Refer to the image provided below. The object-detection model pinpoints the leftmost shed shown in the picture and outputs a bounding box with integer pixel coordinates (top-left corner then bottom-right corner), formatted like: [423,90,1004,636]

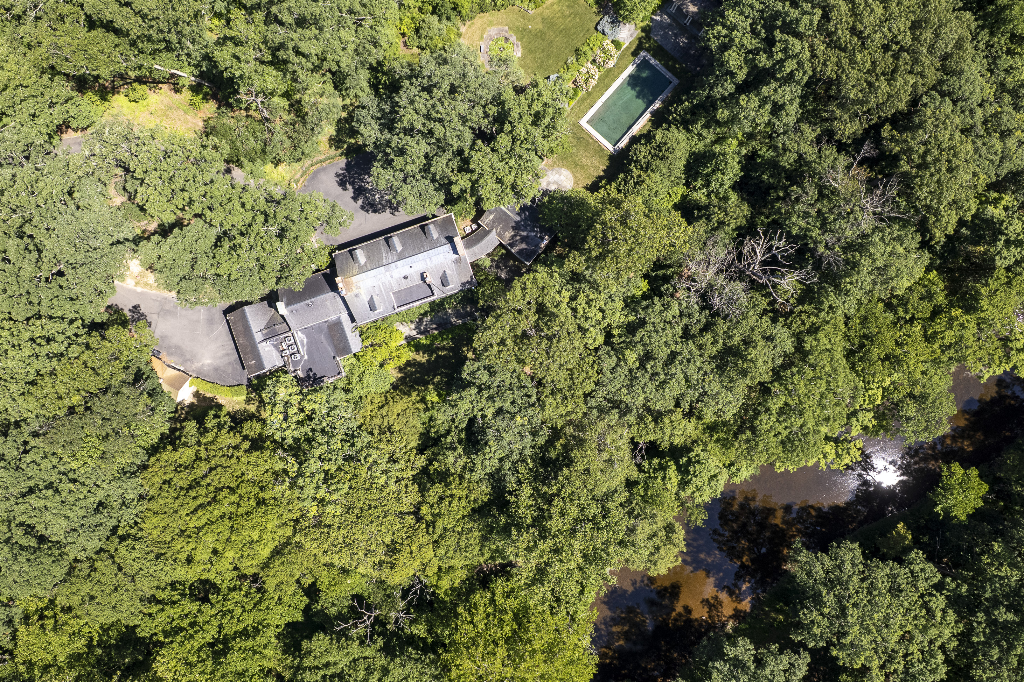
[152,355,199,402]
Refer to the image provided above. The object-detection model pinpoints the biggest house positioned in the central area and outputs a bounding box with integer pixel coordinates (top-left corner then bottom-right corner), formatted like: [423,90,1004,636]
[332,212,477,326]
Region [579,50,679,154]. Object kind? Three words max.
swimming pool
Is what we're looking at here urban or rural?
rural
